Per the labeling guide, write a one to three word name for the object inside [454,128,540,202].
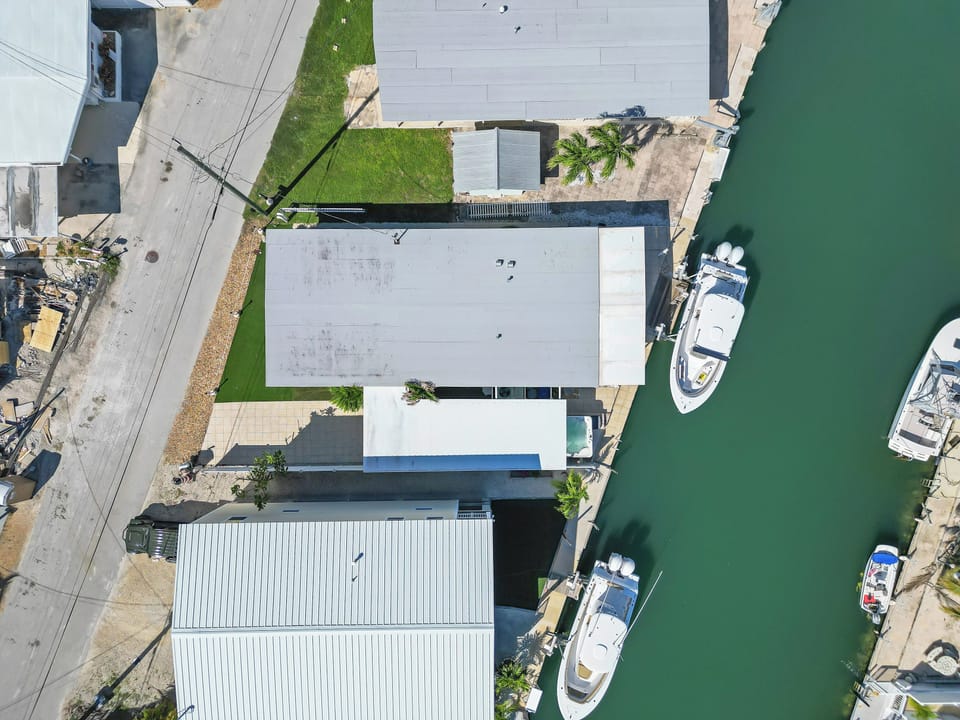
shed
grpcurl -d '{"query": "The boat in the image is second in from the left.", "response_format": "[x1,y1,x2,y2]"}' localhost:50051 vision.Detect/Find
[668,234,748,413]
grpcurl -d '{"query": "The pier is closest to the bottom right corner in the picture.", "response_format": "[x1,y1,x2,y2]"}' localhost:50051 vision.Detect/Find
[843,672,907,720]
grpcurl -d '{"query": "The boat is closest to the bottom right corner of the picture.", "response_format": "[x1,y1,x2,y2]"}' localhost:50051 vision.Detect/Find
[857,541,899,622]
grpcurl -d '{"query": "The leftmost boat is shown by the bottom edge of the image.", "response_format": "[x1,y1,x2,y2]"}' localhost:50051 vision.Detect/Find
[560,542,662,720]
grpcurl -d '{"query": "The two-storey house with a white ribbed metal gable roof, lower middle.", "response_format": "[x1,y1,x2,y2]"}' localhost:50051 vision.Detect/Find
[171,503,500,720]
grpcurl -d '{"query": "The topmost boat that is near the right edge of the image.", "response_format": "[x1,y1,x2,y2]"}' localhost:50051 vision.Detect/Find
[885,311,960,468]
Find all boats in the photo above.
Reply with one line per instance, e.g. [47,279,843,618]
[668,234,748,413]
[560,542,662,720]
[885,311,960,468]
[857,541,899,622]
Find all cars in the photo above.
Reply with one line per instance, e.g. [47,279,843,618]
[125,513,213,565]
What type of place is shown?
residential area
